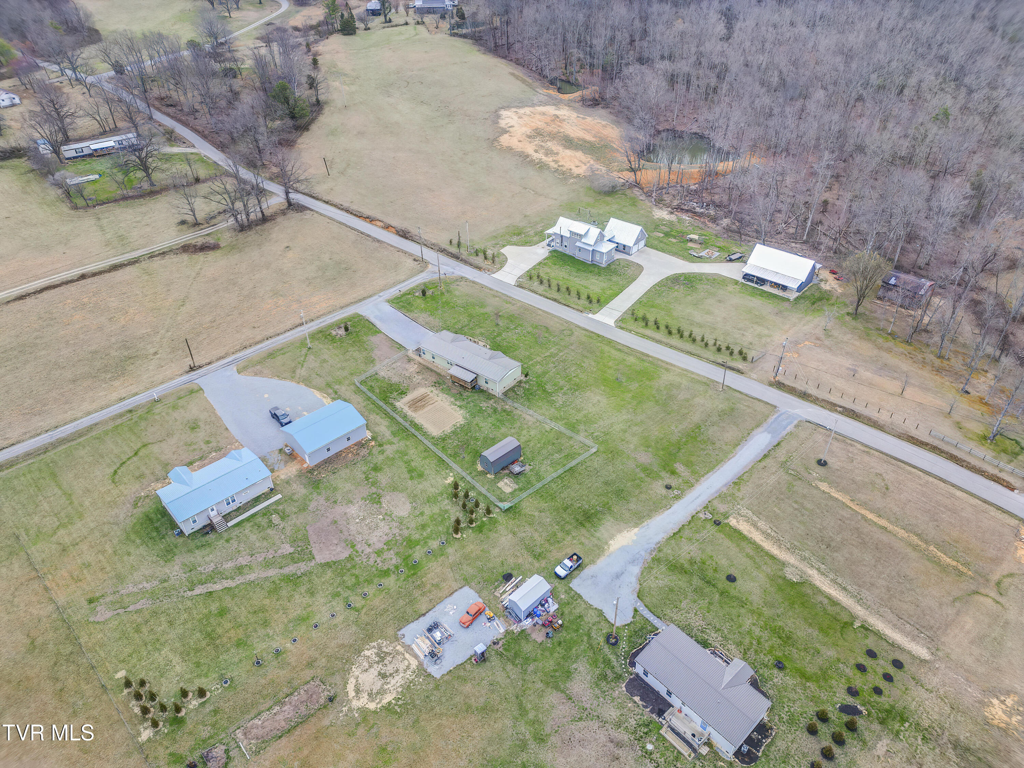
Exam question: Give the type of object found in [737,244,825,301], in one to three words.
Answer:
barn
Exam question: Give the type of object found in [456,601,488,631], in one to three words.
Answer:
car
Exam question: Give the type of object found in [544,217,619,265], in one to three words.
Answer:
house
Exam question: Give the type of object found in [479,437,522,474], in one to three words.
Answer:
shed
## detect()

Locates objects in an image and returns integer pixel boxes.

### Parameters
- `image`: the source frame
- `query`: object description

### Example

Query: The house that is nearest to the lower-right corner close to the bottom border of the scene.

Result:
[631,624,772,758]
